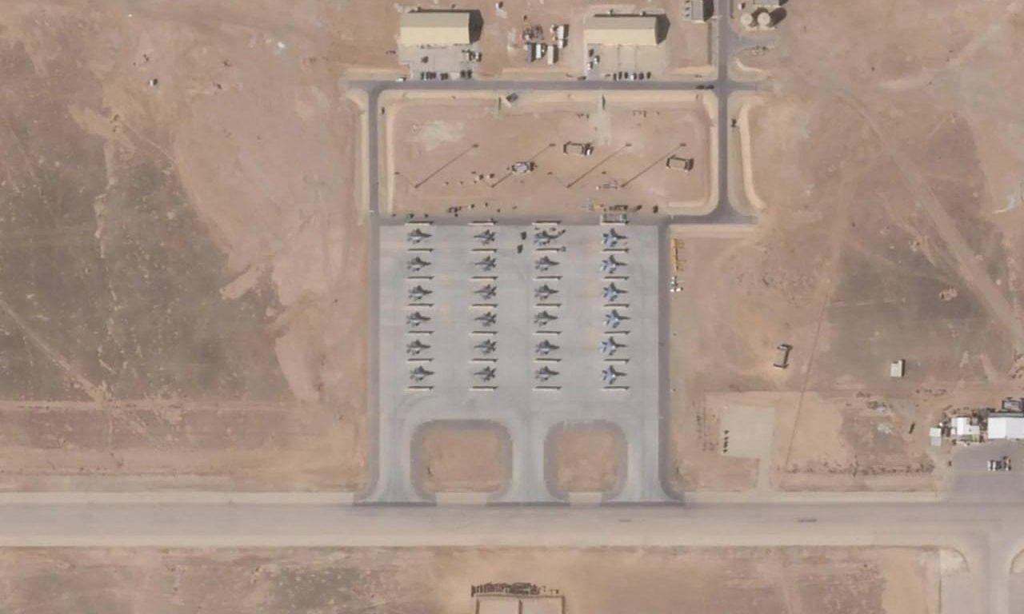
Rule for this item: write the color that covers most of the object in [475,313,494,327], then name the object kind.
gray airplane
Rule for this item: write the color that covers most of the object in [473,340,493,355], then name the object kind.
gray airplane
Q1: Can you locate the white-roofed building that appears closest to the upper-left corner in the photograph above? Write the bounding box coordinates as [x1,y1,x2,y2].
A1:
[399,12,472,45]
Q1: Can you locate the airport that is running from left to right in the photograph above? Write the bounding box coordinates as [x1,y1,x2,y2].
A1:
[0,212,1024,614]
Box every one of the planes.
[409,366,431,382]
[533,311,556,327]
[473,230,492,245]
[600,258,625,274]
[600,339,624,356]
[406,312,429,328]
[535,340,557,356]
[408,285,430,301]
[601,230,624,247]
[535,256,557,272]
[407,257,429,272]
[475,313,494,327]
[406,340,429,356]
[534,366,557,382]
[534,285,556,300]
[473,340,493,355]
[533,231,556,246]
[600,368,625,384]
[473,285,493,300]
[407,229,429,245]
[605,312,629,328]
[474,367,493,382]
[474,257,494,272]
[602,285,626,301]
